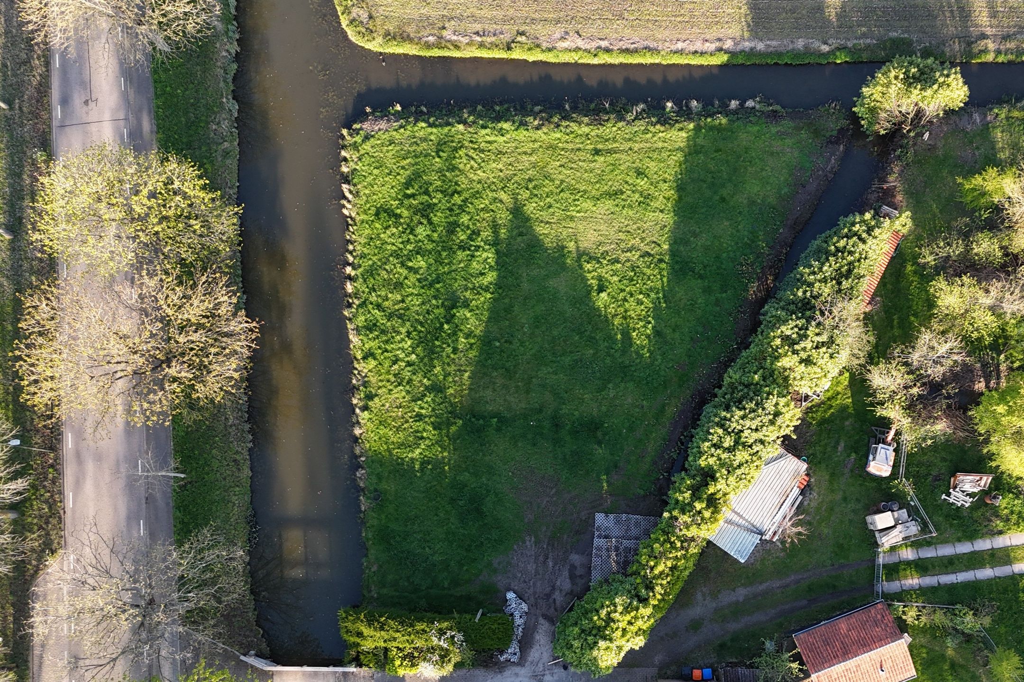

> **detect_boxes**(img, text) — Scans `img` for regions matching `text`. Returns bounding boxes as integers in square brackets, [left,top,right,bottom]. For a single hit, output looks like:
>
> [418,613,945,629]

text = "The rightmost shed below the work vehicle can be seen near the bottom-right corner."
[778,596,913,682]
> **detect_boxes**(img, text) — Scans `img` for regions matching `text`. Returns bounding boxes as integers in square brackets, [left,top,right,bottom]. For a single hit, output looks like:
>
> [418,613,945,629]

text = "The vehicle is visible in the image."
[862,425,905,477]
